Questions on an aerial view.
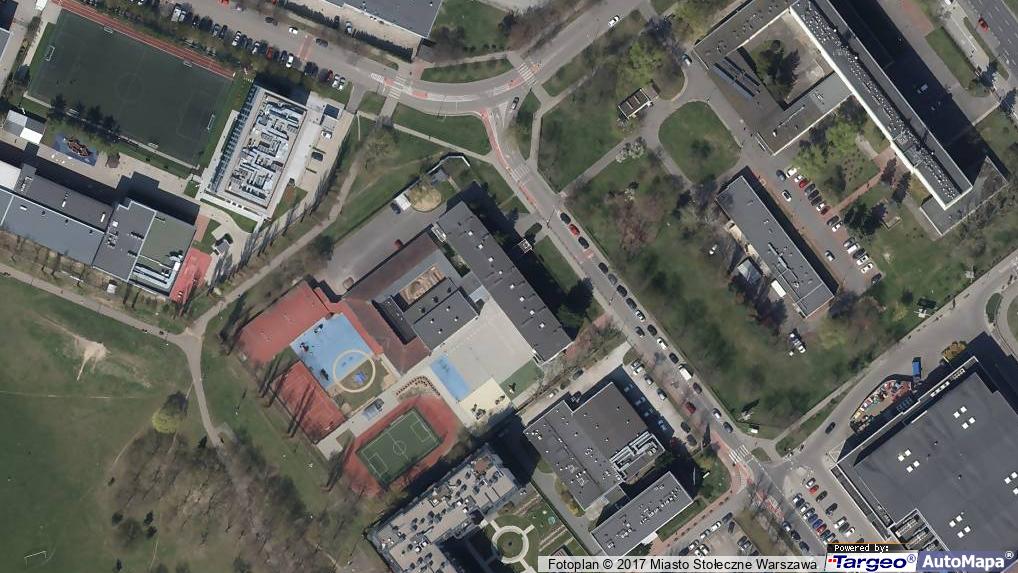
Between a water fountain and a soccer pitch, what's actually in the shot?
soccer pitch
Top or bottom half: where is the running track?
top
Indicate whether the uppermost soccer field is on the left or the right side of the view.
left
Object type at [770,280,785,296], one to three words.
vehicle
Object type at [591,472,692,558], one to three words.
building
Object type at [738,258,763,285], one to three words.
building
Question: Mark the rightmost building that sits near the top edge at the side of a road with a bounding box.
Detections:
[786,0,973,211]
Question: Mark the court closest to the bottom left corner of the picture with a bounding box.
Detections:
[271,361,344,443]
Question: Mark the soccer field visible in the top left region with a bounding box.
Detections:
[28,9,233,168]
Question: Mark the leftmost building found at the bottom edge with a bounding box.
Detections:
[366,452,520,573]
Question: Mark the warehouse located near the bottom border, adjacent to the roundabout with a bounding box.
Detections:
[829,357,1018,573]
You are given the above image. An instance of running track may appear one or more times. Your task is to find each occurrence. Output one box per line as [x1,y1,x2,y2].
[56,0,236,81]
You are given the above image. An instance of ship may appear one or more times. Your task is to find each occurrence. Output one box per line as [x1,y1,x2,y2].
[67,139,89,155]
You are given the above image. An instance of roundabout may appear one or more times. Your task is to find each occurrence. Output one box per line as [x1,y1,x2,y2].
[984,270,1018,366]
